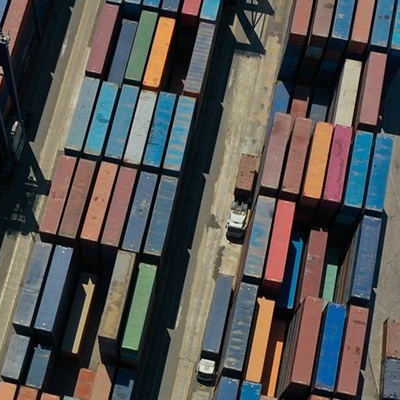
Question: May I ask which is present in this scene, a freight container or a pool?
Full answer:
The image shows a freight container.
